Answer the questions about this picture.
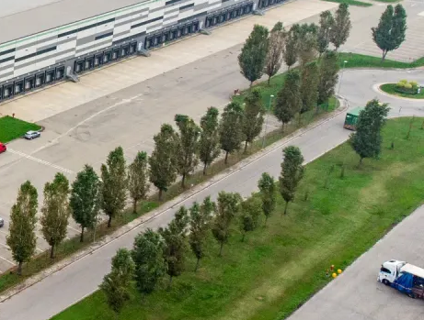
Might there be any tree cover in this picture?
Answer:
Yes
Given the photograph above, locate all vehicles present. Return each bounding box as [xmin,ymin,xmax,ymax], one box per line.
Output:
[0,141,9,153]
[376,266,424,296]
[24,128,43,139]
[0,216,7,227]
[344,107,361,127]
